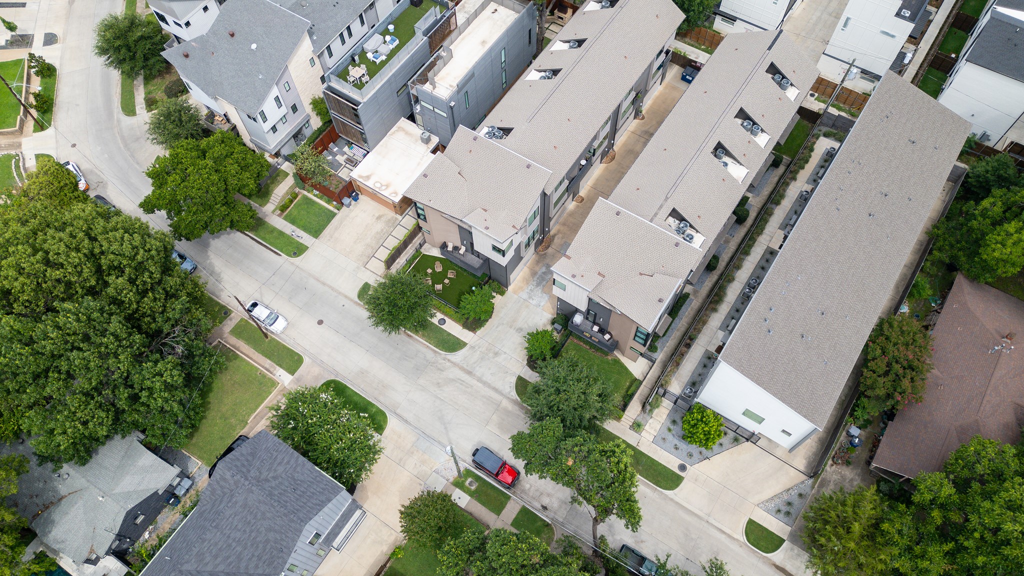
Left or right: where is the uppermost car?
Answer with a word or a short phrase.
left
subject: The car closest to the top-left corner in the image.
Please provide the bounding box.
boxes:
[56,159,92,194]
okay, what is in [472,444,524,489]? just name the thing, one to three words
car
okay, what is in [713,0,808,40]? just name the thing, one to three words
house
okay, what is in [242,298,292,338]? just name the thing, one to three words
car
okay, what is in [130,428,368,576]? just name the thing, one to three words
house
